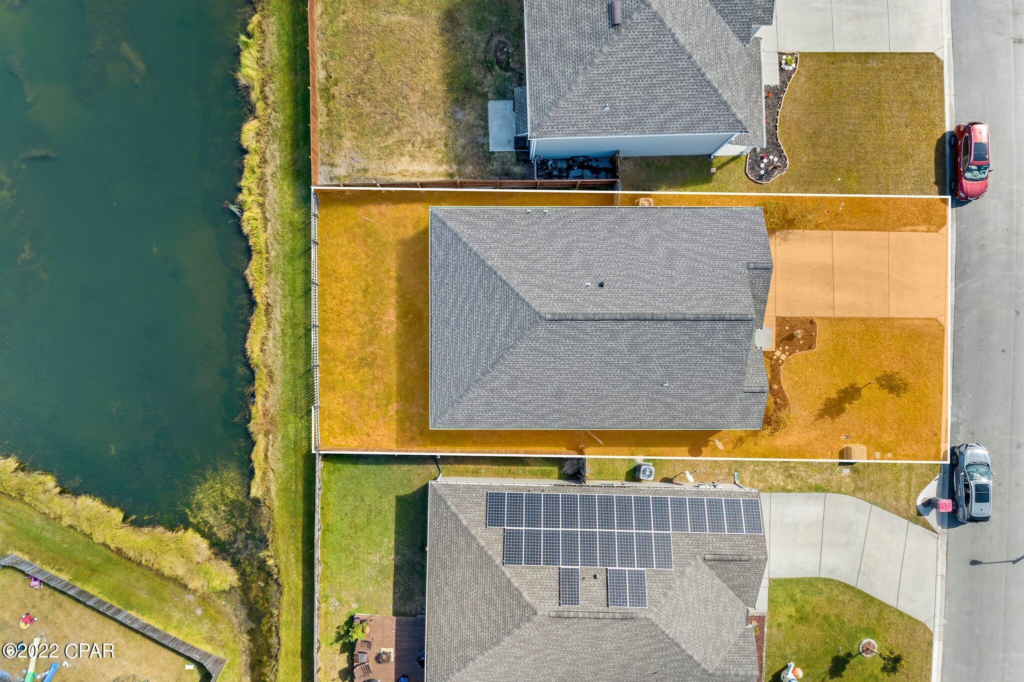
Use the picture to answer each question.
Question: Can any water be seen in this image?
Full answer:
Yes, water can be seen from above here.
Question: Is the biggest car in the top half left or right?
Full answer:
The biggest car in the top half sits on the right side.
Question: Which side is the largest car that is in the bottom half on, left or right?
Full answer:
The largest car that is in the bottom half sits on the right side.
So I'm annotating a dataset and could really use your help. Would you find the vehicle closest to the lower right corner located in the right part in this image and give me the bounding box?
[949,443,995,523]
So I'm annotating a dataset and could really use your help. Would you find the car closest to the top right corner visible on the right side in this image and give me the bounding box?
[949,119,994,200]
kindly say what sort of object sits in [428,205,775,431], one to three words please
house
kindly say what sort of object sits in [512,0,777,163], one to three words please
house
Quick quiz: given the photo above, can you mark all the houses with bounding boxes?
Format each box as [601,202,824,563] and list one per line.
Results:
[422,464,772,682]
[428,205,775,431]
[512,0,777,163]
